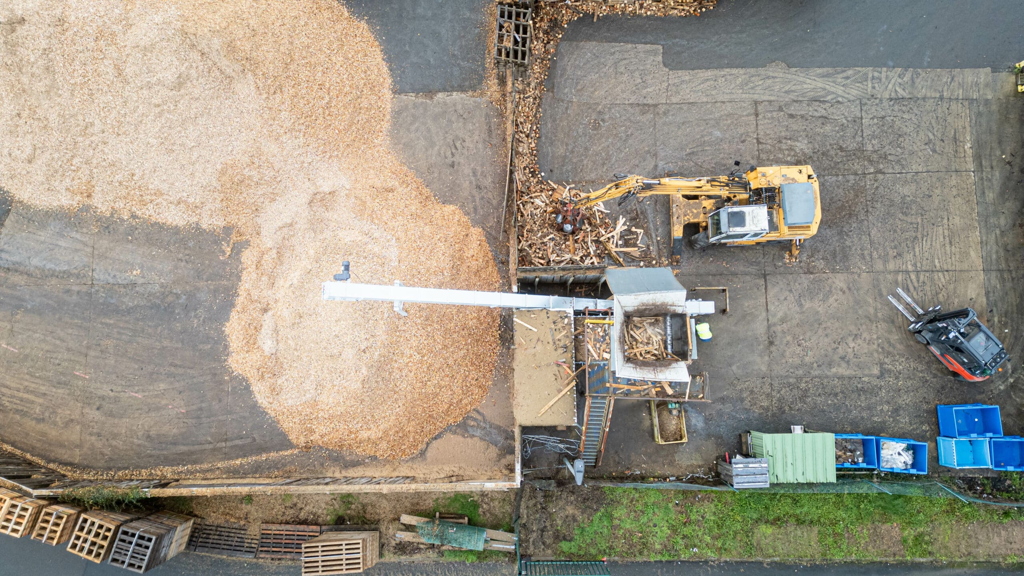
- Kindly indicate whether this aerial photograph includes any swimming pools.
No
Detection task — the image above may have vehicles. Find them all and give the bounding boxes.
[552,160,821,269]
[888,288,1011,382]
